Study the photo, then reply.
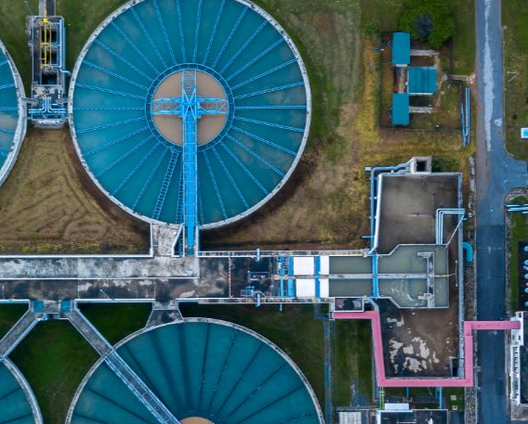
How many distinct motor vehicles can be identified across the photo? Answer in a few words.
0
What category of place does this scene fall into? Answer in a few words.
industrial area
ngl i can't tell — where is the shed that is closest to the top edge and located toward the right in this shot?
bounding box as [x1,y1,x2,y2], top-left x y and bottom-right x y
[392,32,409,66]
